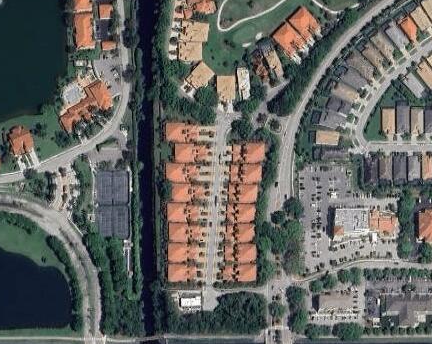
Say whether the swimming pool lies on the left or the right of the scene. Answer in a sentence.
The swimming pool appears in the left half of the scene.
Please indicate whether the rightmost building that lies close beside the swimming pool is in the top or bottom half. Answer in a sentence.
You can find the rightmost building that lies close beside the swimming pool in the top half.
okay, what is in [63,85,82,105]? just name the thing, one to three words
swimming pool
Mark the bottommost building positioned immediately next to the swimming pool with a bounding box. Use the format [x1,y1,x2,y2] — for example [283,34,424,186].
[56,97,97,137]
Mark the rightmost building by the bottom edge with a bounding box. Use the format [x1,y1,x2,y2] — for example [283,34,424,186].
[386,295,432,327]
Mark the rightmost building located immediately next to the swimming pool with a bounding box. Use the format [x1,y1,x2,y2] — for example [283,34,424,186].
[85,78,119,112]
